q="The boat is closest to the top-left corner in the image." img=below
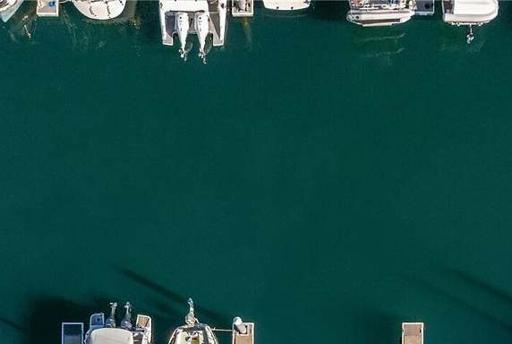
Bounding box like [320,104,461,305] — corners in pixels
[0,0,32,28]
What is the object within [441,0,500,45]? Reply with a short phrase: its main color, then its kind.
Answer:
white boat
